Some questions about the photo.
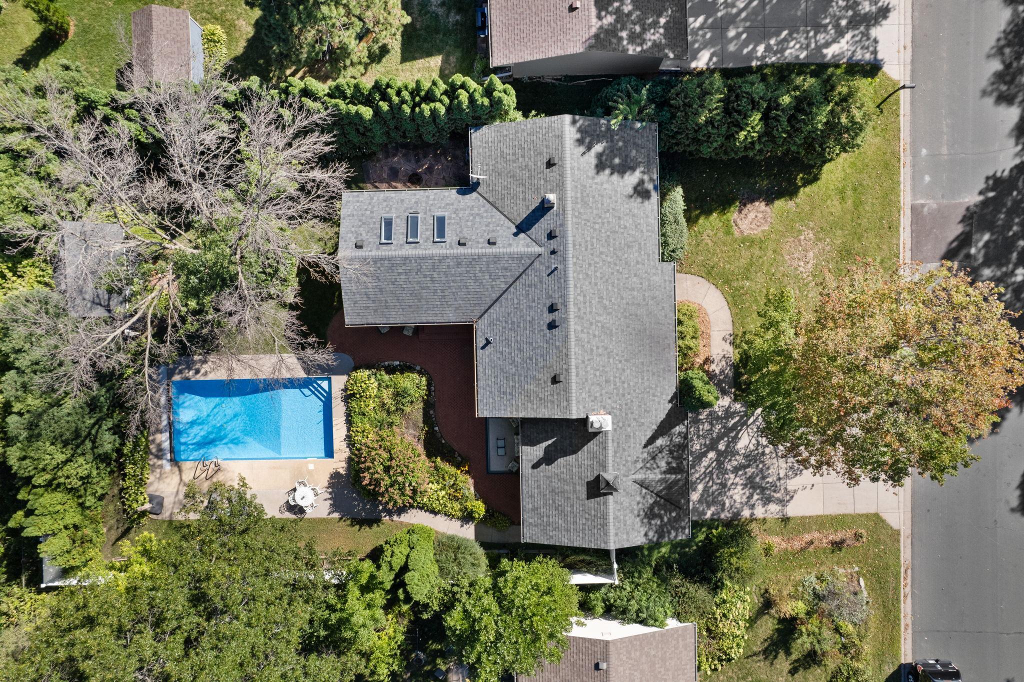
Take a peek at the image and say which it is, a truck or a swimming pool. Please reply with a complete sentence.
I can see a swimming pool in this picture.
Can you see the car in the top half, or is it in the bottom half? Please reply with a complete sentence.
It is in the bottom half that the car appears.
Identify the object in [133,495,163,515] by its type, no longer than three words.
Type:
umbrella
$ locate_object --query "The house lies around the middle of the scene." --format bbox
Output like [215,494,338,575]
[341,115,693,549]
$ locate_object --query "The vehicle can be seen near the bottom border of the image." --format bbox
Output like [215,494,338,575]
[914,655,961,682]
